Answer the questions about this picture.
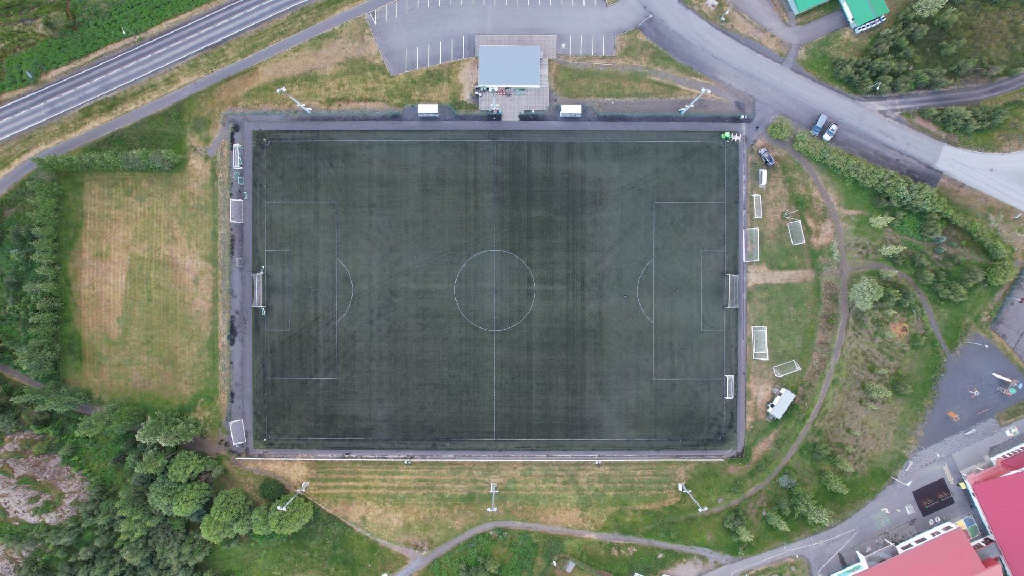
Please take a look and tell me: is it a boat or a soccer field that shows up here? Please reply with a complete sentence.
Looking from above, you can make out a soccer field.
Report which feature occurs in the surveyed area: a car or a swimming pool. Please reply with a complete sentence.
Visible in the photo is a car.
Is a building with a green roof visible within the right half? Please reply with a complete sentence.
Yes, you'll find a building with a green roof within the right half.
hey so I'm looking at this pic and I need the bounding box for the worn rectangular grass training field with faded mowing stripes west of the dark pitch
[80,173,213,398]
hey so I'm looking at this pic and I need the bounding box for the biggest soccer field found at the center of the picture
[252,130,738,449]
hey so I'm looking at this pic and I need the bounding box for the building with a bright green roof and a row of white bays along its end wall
[839,0,889,38]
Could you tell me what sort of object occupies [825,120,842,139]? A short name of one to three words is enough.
car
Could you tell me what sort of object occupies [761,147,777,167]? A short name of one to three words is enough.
car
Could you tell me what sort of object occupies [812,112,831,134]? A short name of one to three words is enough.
vehicle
